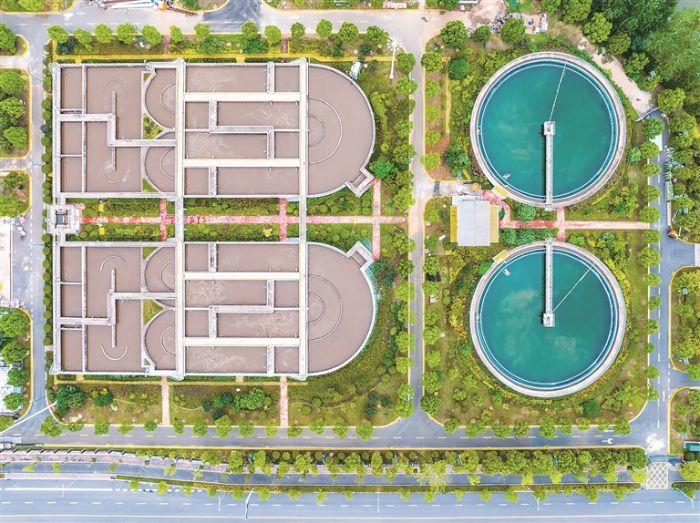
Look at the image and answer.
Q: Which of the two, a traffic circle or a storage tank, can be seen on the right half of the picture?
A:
storage tank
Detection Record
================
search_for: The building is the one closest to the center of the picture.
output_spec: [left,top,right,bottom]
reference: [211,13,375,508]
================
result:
[448,196,500,246]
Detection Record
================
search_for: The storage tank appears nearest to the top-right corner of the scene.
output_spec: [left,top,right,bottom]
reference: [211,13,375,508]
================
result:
[468,50,628,212]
